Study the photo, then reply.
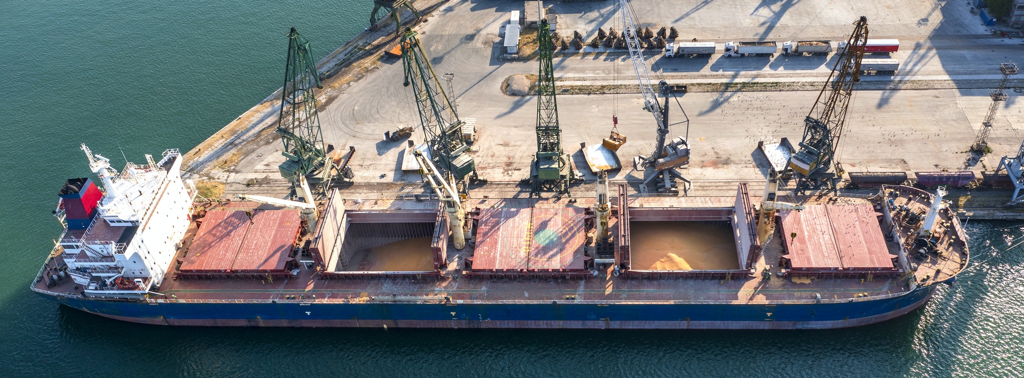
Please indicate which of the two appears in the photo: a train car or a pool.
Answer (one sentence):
This aerial view contains a train car.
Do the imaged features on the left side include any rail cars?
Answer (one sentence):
No, I can find no rail car on the left side.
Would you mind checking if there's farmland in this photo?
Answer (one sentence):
No, there's no farmland in this view.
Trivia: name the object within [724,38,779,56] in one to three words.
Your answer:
vehicle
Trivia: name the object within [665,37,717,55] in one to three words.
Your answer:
vehicle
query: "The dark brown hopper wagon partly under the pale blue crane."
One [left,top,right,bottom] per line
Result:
[974,165,1024,185]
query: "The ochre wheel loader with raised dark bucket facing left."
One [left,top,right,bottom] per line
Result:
[384,122,418,141]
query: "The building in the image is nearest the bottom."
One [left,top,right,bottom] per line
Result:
[501,24,521,56]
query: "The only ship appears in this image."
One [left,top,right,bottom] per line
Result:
[28,138,970,329]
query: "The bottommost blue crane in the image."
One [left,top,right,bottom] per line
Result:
[984,145,1024,203]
